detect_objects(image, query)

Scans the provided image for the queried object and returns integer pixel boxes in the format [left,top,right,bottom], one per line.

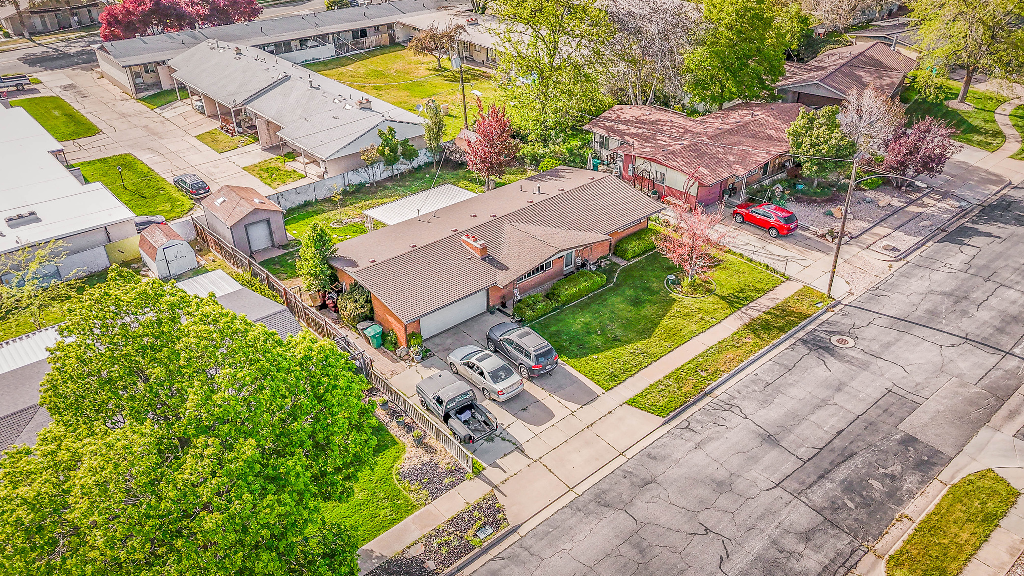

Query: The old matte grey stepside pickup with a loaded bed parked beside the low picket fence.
[409,374,502,446]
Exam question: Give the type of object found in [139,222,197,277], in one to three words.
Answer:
shed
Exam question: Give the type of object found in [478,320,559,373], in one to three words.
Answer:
car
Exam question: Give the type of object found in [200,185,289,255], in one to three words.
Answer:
shed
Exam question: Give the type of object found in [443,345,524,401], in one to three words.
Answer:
car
